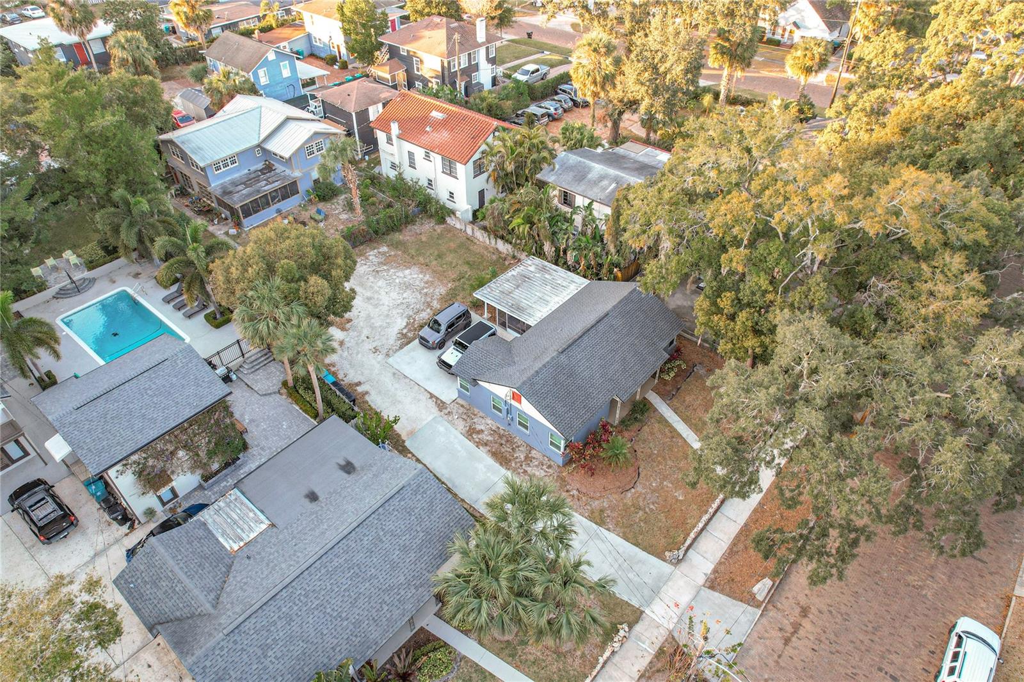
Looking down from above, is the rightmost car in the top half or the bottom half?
bottom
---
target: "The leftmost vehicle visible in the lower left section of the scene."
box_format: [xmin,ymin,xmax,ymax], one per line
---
[5,483,79,548]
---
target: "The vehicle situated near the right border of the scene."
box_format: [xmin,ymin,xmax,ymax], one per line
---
[928,613,1005,682]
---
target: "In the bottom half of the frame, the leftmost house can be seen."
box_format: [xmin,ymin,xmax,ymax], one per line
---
[0,400,47,475]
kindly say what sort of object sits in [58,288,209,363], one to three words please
swimming pool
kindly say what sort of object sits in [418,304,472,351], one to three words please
car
